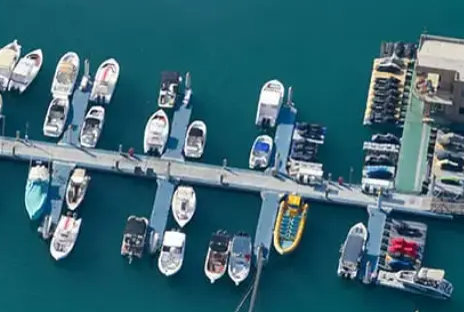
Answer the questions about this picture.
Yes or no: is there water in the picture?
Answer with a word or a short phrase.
Yes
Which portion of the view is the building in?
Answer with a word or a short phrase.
top right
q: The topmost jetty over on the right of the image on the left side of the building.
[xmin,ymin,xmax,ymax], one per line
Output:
[266,102,298,173]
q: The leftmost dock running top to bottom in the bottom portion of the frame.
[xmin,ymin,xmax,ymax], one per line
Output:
[41,164,73,237]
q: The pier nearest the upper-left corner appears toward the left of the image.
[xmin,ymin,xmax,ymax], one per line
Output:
[55,80,91,146]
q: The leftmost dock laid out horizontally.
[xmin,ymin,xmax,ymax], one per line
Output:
[0,137,434,214]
